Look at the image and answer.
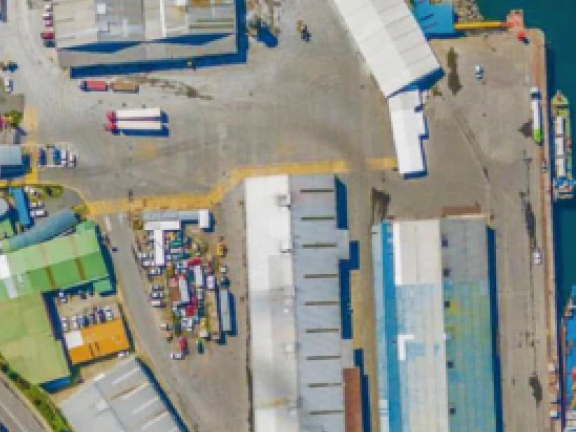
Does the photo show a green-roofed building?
Yes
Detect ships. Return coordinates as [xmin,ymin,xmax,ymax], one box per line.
[542,85,576,205]
[553,285,576,432]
